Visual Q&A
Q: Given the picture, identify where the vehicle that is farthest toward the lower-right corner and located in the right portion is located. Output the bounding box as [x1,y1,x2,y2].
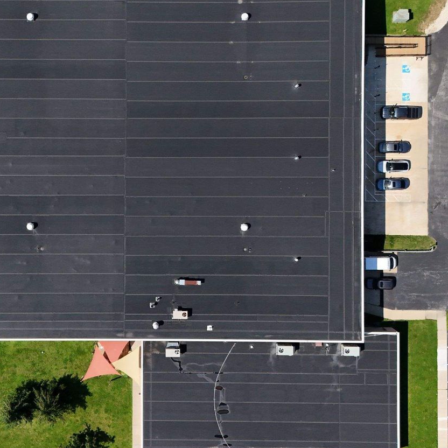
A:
[364,275,397,291]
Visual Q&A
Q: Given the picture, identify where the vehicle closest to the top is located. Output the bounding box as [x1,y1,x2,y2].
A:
[379,103,424,120]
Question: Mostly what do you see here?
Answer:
buildings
